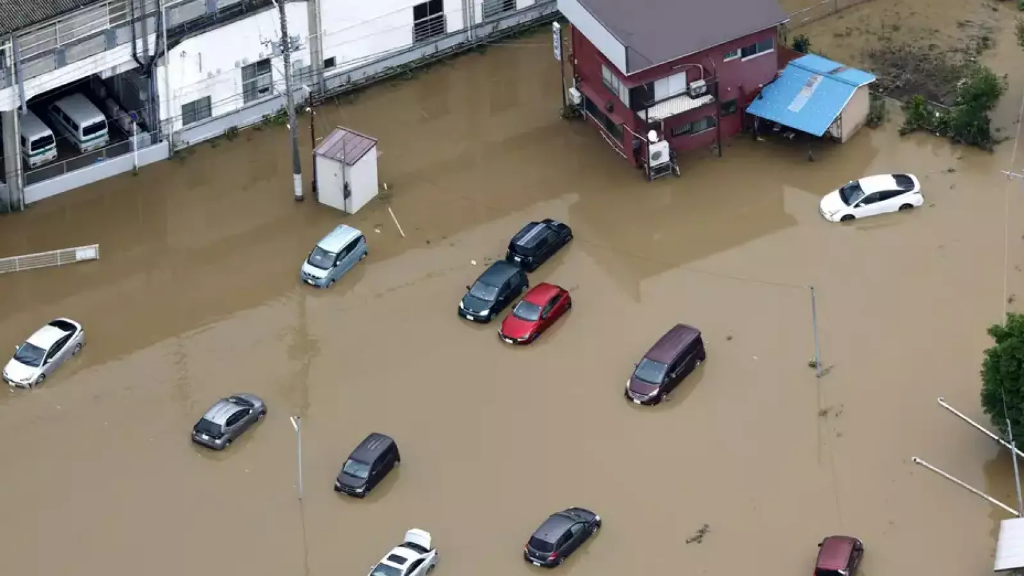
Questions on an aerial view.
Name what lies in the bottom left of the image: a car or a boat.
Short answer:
car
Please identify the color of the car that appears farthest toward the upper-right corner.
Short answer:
white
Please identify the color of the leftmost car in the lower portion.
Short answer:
white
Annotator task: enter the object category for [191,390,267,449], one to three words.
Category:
car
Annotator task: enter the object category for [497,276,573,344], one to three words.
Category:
car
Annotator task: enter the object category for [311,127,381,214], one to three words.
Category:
shed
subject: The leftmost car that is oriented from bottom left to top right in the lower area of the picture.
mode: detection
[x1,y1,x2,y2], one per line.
[1,314,86,386]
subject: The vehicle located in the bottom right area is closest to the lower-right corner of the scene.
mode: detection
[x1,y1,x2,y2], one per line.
[821,536,869,576]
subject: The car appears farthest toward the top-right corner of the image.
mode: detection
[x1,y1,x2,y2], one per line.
[818,171,924,220]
